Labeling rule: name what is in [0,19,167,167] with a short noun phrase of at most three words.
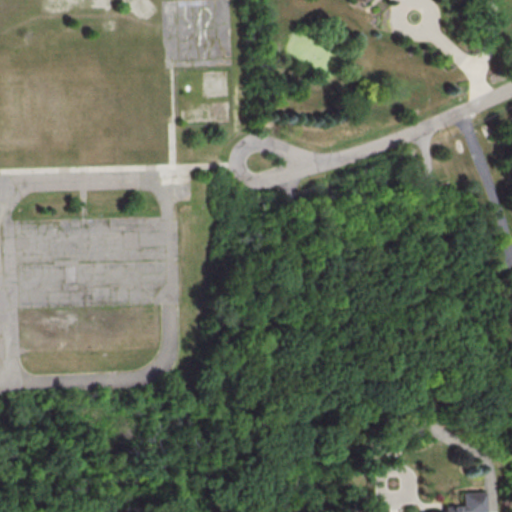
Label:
sports field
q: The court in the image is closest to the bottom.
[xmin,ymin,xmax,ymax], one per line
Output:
[182,102,230,123]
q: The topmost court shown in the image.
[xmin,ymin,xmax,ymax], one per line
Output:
[162,0,231,68]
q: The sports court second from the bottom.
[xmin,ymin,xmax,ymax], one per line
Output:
[203,70,228,98]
